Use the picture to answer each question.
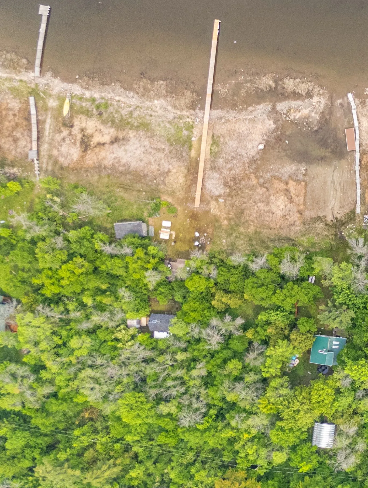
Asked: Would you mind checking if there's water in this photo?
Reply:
Yes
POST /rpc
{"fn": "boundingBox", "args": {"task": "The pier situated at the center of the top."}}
[195,19,220,207]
